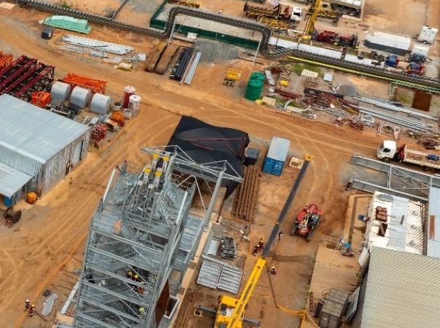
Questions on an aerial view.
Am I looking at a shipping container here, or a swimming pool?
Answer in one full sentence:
Looking from above, you can make out a shipping container.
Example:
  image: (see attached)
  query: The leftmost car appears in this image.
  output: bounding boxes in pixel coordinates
[40,25,53,40]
